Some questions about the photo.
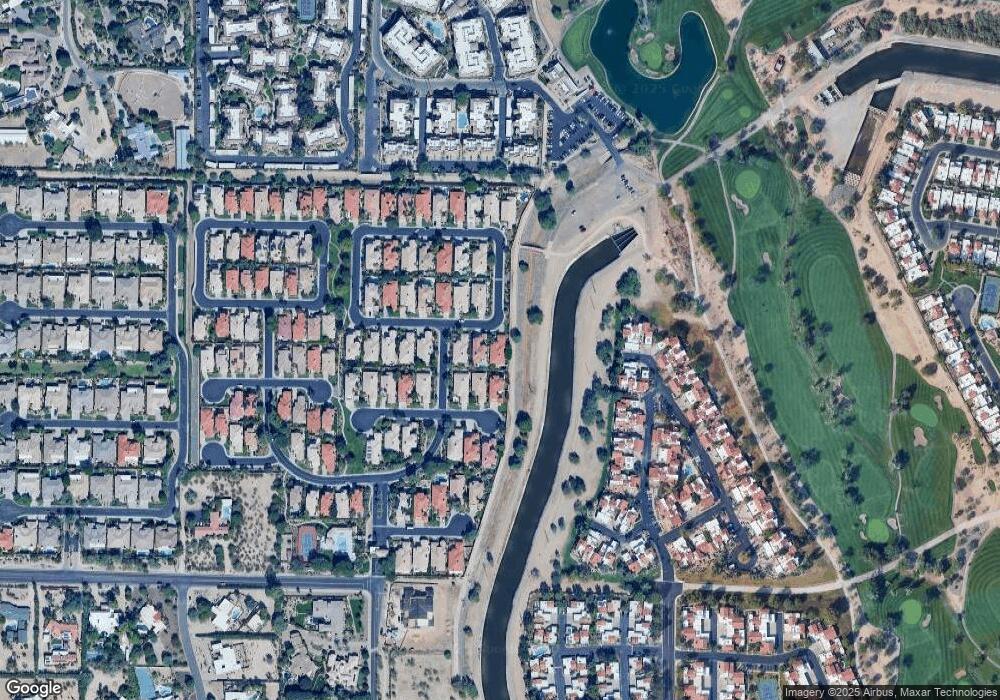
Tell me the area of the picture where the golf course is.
right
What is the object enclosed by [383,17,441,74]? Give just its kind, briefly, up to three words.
building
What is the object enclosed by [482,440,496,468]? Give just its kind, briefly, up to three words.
house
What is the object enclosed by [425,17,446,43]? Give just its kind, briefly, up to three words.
swimming pool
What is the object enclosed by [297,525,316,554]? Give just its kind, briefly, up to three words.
tennis court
